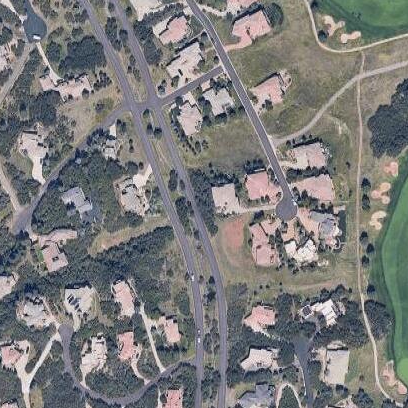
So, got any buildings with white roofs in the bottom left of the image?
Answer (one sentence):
Yes, there is a building with a white roof in the bottom left of the image.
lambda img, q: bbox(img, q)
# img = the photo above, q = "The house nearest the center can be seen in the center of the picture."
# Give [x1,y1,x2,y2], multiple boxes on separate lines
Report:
[211,183,238,214]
